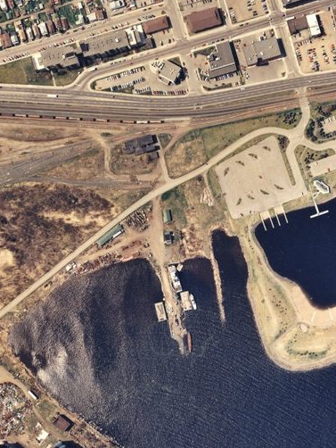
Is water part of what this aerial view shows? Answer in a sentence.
Yes, some water is visible.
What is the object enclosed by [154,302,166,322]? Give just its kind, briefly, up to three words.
ship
